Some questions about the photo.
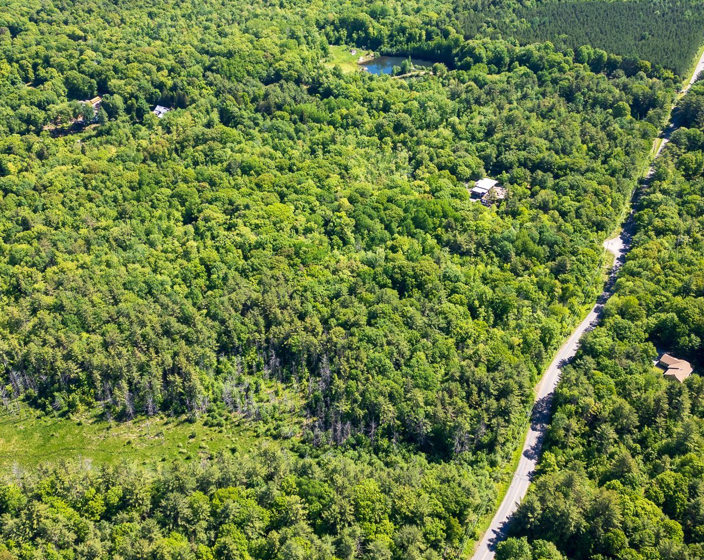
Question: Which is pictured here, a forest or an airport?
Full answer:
The picture captures a forest.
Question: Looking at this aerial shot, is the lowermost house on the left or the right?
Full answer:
You can find the lowermost house on the right side of the picture.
